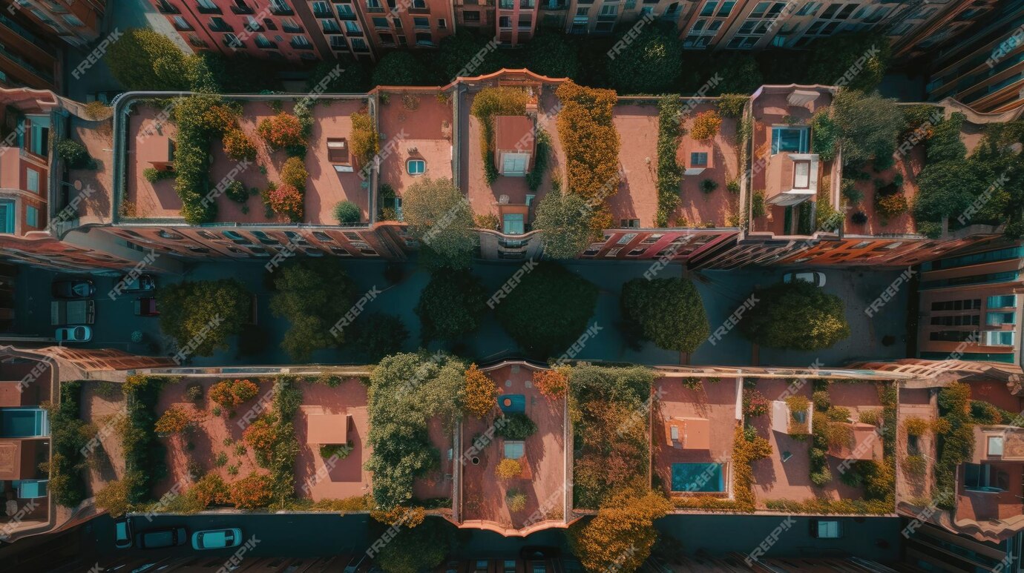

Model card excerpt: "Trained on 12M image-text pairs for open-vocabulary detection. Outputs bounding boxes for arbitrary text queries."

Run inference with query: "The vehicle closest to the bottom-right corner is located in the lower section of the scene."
[804,515,843,542]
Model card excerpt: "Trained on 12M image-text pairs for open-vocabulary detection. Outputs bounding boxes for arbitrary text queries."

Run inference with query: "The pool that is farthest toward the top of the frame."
[0,404,45,436]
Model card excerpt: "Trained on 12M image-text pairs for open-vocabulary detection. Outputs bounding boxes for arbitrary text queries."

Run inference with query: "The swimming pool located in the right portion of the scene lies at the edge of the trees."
[667,460,730,497]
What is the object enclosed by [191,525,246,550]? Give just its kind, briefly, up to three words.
car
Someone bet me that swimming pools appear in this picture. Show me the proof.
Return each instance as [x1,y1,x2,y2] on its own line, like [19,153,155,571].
[667,460,730,497]
[0,404,45,436]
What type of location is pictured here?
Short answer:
residential area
